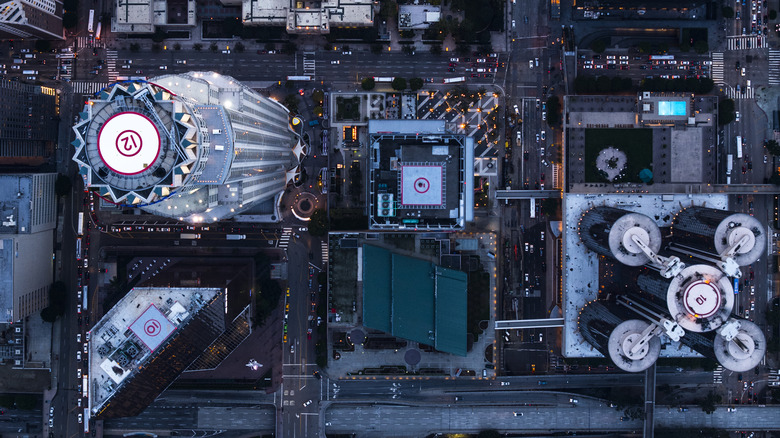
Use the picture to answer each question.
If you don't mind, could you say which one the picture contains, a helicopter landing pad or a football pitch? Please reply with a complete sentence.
Of the two, only a helicopter landing pad appears.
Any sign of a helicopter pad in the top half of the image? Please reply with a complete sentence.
Yes, there is a helicopter pad in the top half of the image.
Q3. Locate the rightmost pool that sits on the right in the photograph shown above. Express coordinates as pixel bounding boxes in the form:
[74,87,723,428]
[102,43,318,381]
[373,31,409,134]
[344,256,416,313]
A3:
[659,101,686,116]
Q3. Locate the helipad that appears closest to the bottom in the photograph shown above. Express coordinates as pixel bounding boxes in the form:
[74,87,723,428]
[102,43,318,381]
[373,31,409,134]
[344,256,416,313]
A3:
[128,302,178,353]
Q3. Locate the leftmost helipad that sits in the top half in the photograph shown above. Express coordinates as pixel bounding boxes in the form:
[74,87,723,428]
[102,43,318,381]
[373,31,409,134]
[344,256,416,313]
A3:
[98,112,161,174]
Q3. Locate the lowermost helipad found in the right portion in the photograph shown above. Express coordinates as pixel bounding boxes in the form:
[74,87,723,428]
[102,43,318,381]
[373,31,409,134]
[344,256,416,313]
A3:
[685,280,722,317]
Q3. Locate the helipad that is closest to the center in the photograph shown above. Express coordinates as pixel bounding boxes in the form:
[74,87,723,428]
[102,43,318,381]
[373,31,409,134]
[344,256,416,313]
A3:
[397,161,447,209]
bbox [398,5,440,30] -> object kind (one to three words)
building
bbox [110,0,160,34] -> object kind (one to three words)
building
